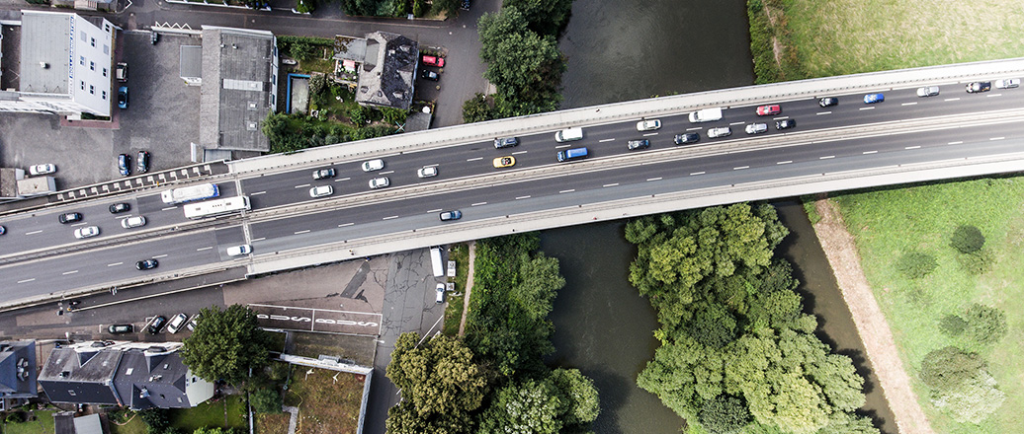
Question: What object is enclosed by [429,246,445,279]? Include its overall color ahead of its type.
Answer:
white vehicle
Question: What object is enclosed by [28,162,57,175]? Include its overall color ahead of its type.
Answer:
white vehicle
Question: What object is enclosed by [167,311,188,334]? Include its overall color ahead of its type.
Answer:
white car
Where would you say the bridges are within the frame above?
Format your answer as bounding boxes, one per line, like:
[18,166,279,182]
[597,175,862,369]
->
[231,57,1024,277]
